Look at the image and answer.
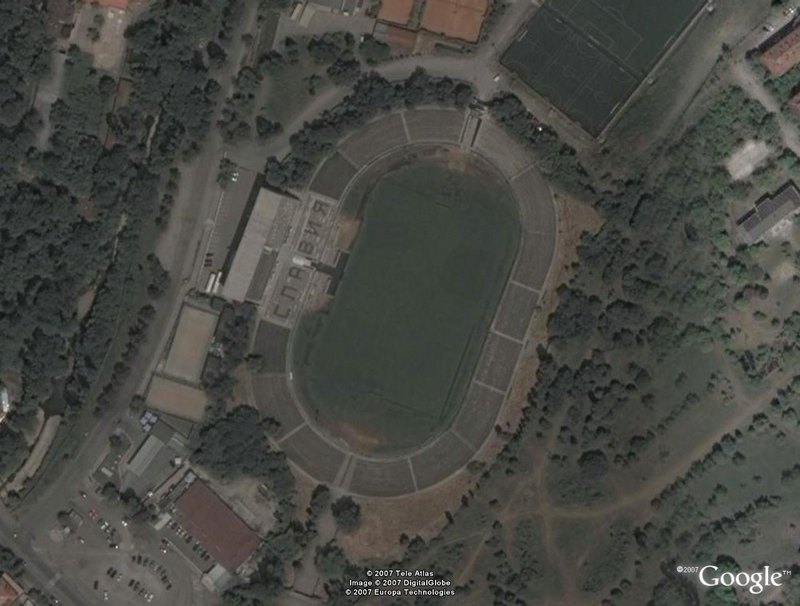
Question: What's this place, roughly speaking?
sports ground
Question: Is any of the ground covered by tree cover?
Yes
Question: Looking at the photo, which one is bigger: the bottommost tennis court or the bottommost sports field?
the sports field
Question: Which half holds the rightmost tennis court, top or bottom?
top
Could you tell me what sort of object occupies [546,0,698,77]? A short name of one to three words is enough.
soccer field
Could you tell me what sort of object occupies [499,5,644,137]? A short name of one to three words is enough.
soccer field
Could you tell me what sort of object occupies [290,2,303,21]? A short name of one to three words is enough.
vehicle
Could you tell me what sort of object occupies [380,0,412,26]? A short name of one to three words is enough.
tennis court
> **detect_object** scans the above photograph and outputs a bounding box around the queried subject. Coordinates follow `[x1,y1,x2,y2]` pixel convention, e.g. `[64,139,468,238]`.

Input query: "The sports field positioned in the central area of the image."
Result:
[289,143,522,458]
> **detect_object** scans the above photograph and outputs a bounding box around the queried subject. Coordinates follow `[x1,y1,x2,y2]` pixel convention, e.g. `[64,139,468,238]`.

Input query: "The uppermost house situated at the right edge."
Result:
[763,30,800,74]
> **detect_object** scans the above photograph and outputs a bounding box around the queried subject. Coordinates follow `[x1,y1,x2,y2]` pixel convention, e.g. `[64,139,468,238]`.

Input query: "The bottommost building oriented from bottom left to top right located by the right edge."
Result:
[738,187,800,245]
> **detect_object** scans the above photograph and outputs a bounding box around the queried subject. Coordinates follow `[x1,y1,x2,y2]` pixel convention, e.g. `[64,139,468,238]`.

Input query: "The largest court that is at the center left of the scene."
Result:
[165,305,216,383]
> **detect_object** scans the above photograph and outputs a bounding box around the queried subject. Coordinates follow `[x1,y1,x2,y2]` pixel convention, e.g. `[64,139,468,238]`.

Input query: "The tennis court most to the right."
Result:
[420,0,486,41]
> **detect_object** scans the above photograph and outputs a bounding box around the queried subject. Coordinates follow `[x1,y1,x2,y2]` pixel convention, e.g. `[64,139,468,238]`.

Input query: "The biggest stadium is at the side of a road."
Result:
[248,99,560,500]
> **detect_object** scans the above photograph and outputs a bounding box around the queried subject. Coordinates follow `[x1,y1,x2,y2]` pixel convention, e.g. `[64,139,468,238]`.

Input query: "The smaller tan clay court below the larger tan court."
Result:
[145,376,205,421]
